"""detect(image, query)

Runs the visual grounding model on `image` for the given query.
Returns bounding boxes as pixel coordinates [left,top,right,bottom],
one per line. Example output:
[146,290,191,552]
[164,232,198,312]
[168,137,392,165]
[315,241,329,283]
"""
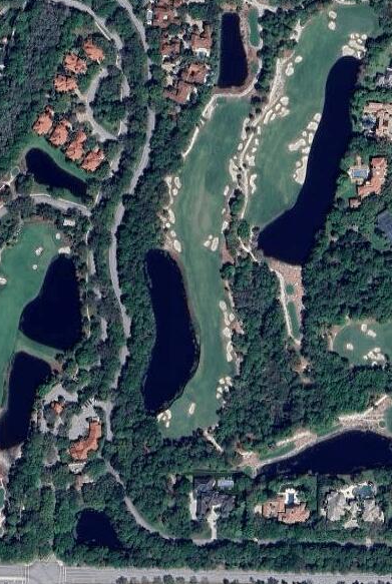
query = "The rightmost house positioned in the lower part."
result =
[345,497,385,527]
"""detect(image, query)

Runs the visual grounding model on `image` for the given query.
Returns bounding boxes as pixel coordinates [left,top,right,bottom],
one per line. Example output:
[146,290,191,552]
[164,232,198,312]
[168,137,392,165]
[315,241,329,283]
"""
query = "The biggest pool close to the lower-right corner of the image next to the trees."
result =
[352,484,375,499]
